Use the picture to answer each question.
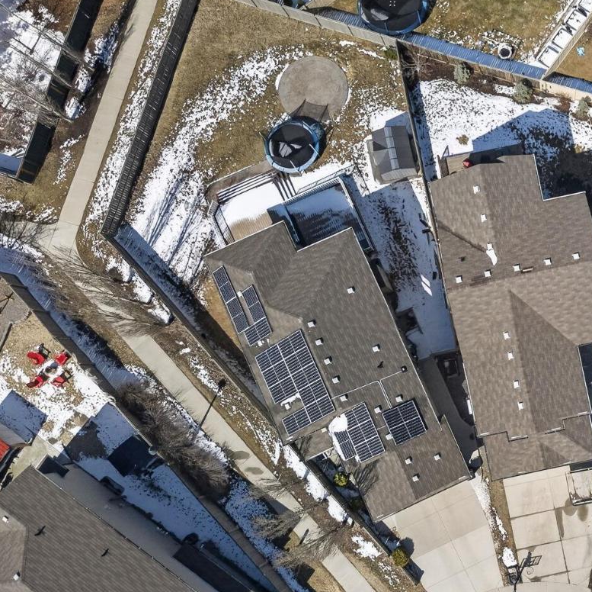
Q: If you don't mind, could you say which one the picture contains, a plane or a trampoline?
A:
trampoline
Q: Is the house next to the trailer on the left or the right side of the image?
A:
right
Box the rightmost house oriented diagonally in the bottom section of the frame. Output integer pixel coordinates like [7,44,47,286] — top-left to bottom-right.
[204,220,473,522]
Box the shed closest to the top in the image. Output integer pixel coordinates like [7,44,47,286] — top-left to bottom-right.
[369,126,416,182]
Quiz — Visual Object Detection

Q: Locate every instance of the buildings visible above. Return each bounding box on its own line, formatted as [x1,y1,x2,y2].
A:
[204,220,473,522]
[429,154,592,480]
[369,126,416,182]
[0,463,269,592]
